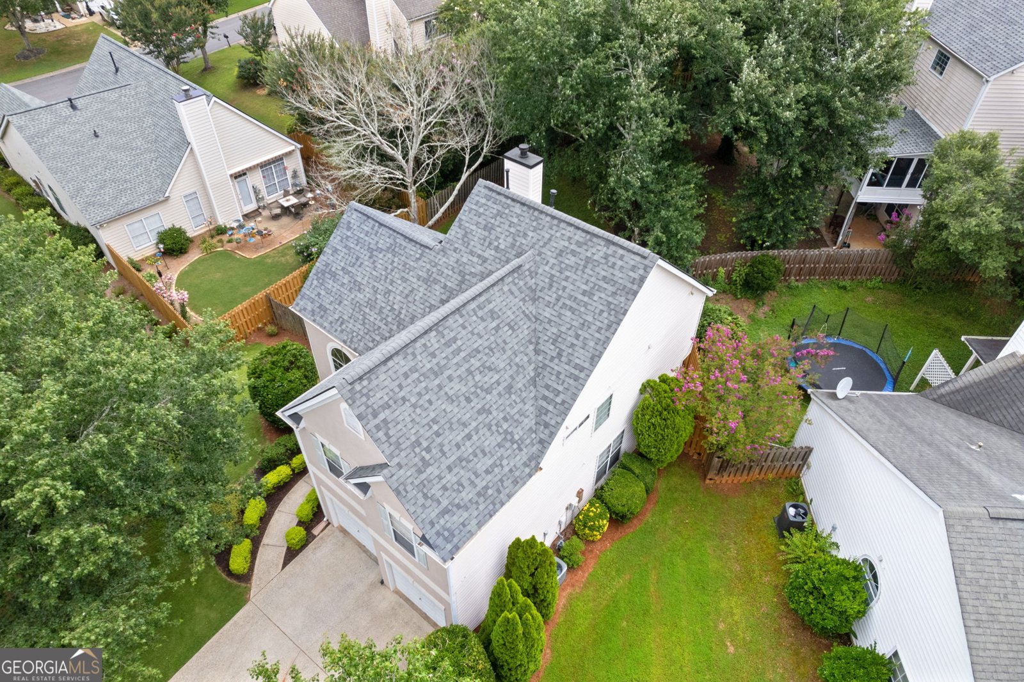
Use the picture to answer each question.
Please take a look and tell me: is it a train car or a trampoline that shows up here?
trampoline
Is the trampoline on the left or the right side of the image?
right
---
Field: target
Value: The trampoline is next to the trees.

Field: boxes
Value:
[787,309,924,404]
